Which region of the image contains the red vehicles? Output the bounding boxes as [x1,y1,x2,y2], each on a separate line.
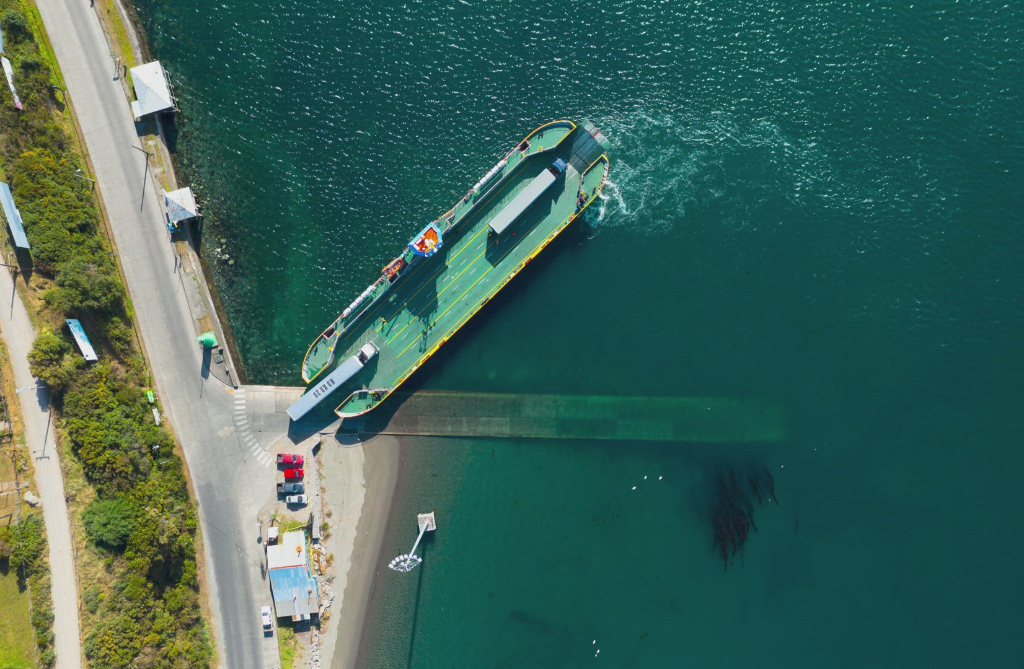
[284,470,304,481]
[276,456,303,467]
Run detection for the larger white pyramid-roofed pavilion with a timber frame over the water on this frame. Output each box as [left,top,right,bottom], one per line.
[129,60,189,120]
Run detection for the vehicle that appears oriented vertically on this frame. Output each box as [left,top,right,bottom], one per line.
[261,608,273,635]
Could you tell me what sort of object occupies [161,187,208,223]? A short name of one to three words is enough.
building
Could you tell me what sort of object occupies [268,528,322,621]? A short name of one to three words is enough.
house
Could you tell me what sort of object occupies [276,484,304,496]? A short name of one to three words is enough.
vehicle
